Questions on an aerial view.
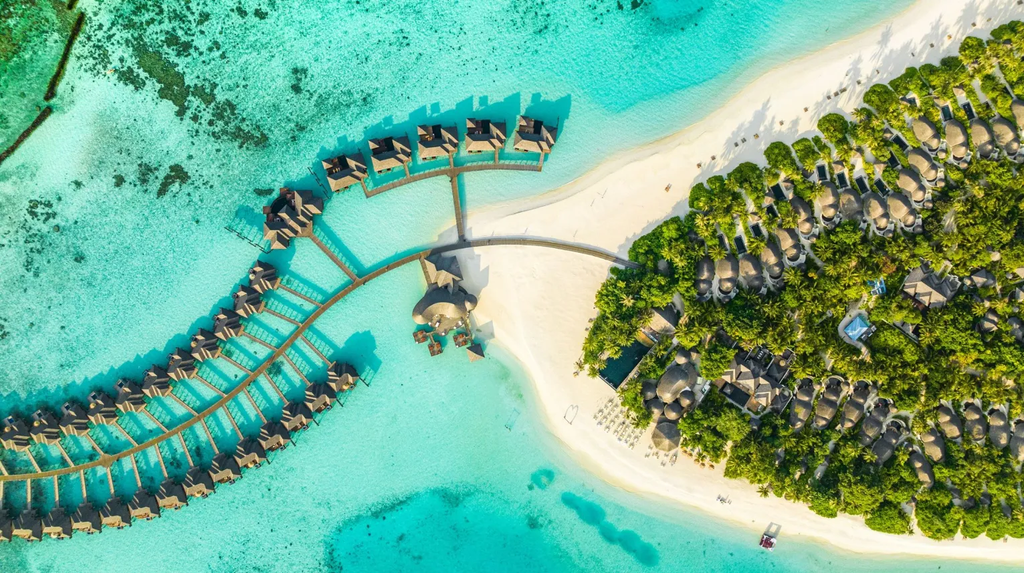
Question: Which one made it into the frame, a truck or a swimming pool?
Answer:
swimming pool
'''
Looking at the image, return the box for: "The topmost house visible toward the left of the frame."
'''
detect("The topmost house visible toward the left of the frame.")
[264,188,325,249]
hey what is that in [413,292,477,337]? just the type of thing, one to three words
building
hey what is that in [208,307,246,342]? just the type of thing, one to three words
house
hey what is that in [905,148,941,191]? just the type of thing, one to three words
house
